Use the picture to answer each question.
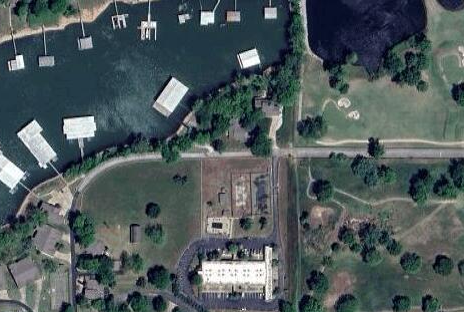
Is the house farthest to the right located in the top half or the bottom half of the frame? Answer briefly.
top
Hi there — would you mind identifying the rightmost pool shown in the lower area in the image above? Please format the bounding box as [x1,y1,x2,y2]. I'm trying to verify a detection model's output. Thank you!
[207,217,230,234]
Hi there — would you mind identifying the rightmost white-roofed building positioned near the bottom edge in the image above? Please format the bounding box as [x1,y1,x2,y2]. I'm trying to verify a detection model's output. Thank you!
[198,245,274,298]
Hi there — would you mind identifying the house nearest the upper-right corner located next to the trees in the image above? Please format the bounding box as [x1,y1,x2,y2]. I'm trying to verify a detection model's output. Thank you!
[258,99,282,118]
